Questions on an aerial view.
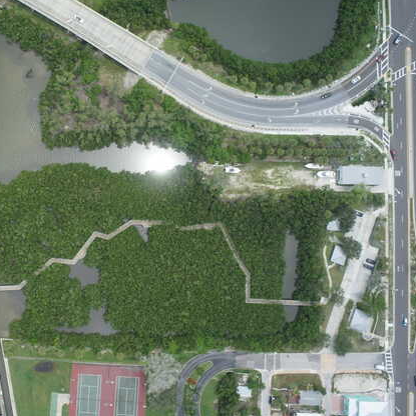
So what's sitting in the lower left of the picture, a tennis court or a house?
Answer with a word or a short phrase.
tennis court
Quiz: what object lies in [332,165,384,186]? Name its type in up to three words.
building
